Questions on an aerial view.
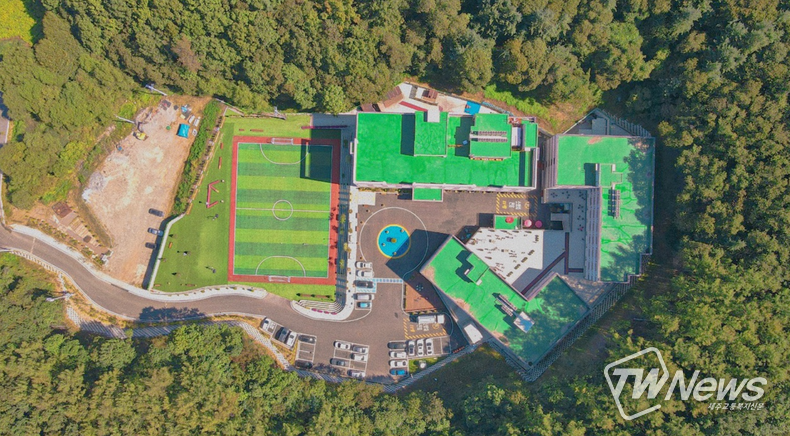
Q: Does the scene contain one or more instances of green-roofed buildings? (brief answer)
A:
Yes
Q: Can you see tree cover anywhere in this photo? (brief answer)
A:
Yes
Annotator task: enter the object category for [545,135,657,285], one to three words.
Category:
building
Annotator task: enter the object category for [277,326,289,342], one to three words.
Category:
vehicle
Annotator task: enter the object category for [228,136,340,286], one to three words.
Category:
soccer field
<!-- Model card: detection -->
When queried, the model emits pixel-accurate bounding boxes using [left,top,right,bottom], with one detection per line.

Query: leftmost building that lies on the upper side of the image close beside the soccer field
[350,110,538,195]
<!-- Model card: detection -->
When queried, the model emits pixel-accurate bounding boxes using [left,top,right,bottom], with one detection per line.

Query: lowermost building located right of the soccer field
[417,235,592,367]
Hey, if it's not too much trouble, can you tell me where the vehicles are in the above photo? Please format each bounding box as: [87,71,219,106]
[277,326,289,342]
[333,358,349,367]
[262,316,274,333]
[417,314,444,323]
[391,351,407,358]
[352,353,368,361]
[408,340,415,356]
[336,341,352,350]
[357,262,373,269]
[426,339,433,355]
[358,270,373,278]
[299,335,316,343]
[285,331,297,347]
[390,342,407,350]
[149,208,164,217]
[391,360,407,367]
[391,368,407,377]
[147,227,164,236]
[145,242,158,249]
[353,346,369,354]
[349,369,365,377]
[417,340,424,356]
[359,302,371,308]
